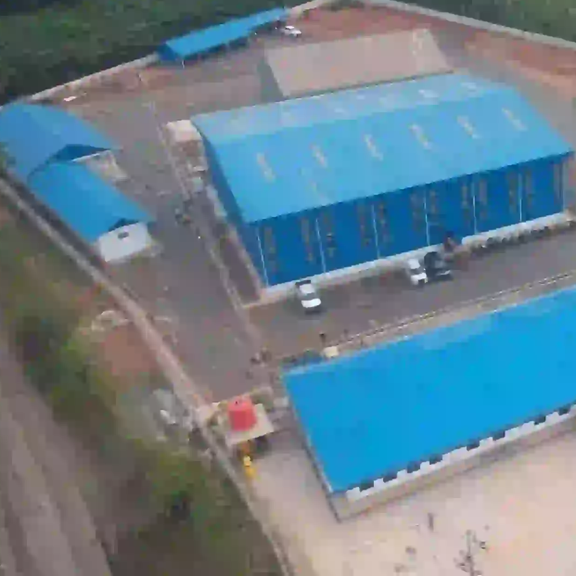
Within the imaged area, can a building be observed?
Yes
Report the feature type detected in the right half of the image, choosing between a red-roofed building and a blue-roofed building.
blue-roofed building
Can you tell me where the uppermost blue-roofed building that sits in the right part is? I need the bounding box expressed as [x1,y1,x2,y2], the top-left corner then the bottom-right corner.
[191,73,576,298]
